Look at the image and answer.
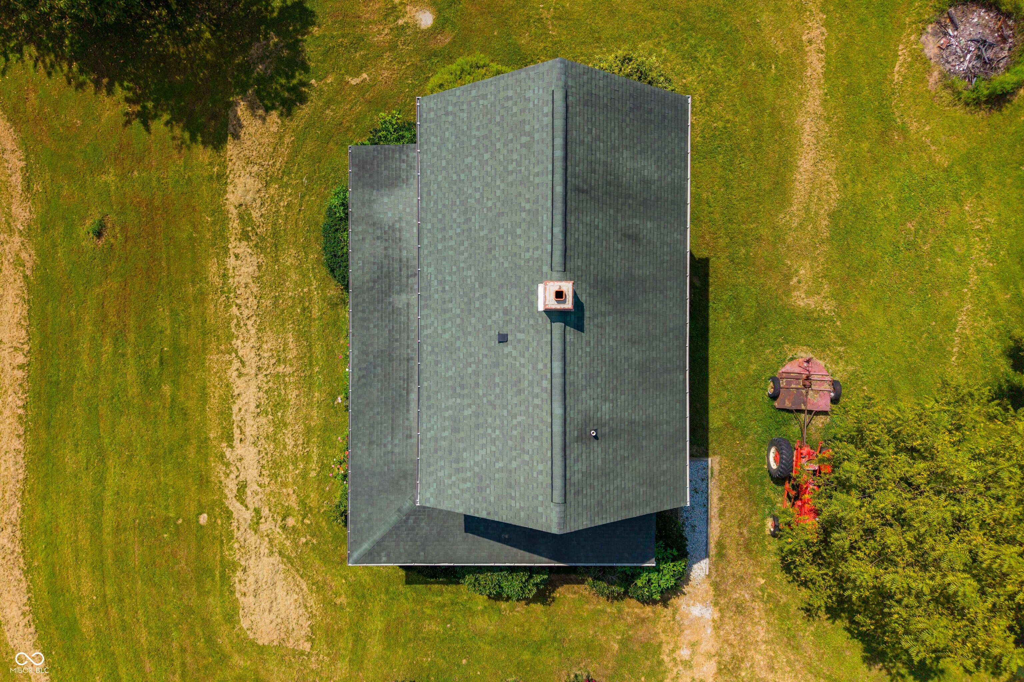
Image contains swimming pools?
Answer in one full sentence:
No, there's no swimming pool here.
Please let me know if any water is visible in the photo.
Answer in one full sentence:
No, there is no water in the image.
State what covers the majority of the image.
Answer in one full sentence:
The scene is dominated by grass.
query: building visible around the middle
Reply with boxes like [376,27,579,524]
[348,57,692,566]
